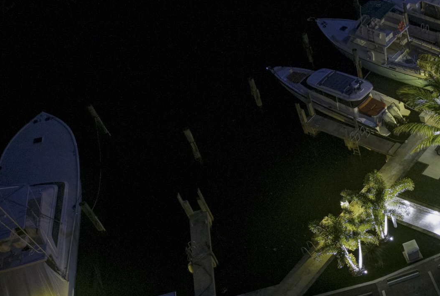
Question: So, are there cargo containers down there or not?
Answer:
No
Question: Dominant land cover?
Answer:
water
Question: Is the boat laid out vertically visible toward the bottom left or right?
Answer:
left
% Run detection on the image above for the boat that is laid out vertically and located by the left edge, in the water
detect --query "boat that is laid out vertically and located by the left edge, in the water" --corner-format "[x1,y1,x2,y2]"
[0,83,90,296]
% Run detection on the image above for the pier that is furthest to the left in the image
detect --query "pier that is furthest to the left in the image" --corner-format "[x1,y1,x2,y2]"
[189,210,219,296]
